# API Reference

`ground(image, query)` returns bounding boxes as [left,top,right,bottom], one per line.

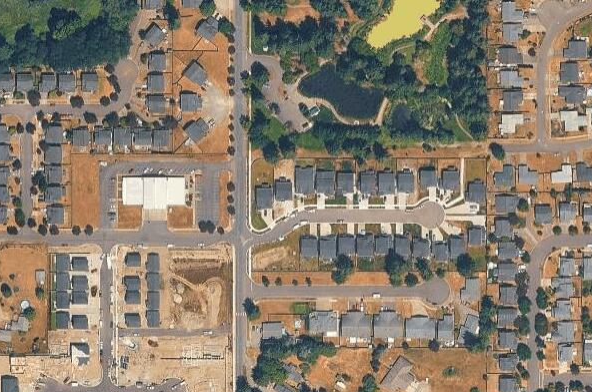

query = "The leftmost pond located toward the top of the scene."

[301,65,384,119]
